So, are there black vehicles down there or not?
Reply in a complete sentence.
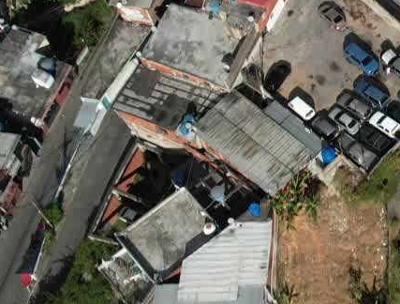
Yes, looking at the shot, I can spot a black vehicle.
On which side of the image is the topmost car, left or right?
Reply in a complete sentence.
The topmost car sits on the right side.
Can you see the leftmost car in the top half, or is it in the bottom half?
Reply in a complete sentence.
The top half of the photo is where the leftmost car is.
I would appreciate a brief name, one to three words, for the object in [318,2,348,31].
car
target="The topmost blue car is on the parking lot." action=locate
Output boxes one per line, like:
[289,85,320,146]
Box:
[340,41,381,75]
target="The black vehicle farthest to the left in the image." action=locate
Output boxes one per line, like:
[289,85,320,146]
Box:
[262,60,294,92]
